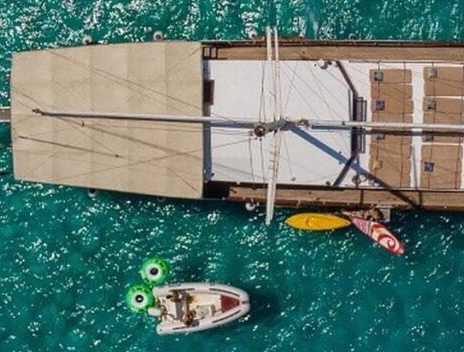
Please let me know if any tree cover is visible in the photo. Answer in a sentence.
No, there's no tree cover in this view.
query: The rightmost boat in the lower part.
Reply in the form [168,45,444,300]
[286,212,350,230]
